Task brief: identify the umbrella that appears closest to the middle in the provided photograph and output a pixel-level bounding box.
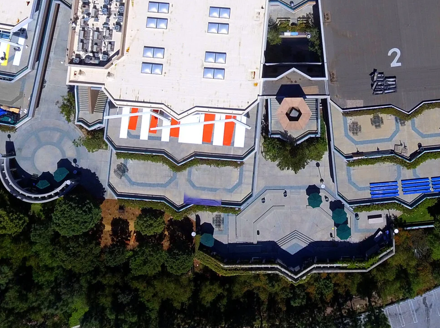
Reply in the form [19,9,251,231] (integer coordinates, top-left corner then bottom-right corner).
[195,230,217,252]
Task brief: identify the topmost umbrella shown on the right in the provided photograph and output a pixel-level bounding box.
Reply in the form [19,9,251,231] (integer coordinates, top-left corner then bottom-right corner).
[304,190,325,211]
